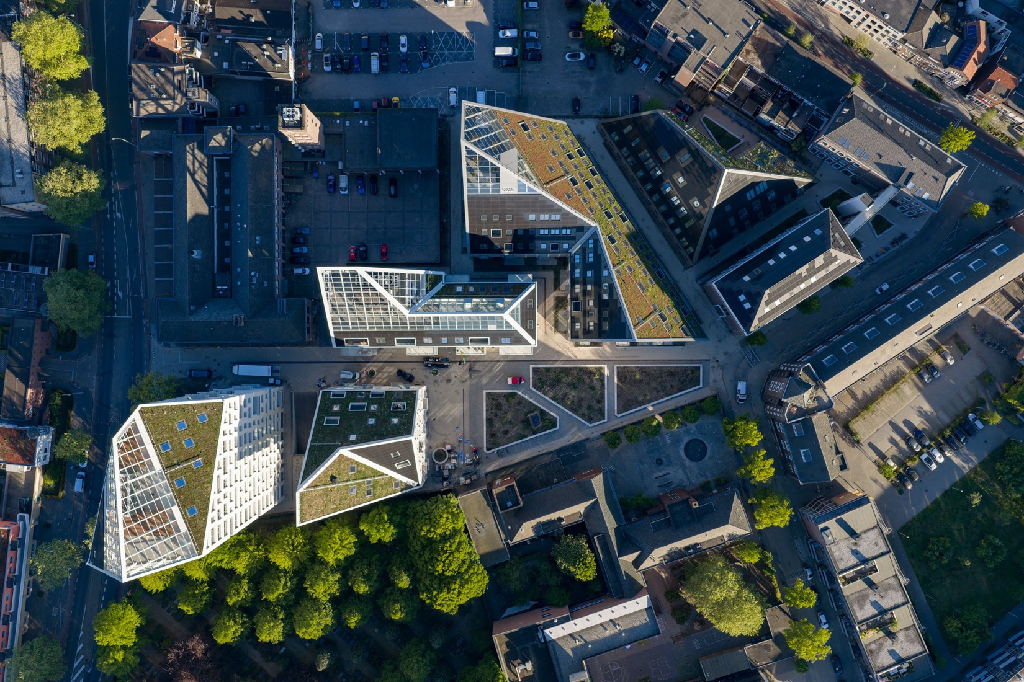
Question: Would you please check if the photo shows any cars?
Yes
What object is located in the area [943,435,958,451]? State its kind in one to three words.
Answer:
car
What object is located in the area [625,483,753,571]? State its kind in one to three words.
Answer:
building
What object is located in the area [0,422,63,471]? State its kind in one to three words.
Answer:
house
